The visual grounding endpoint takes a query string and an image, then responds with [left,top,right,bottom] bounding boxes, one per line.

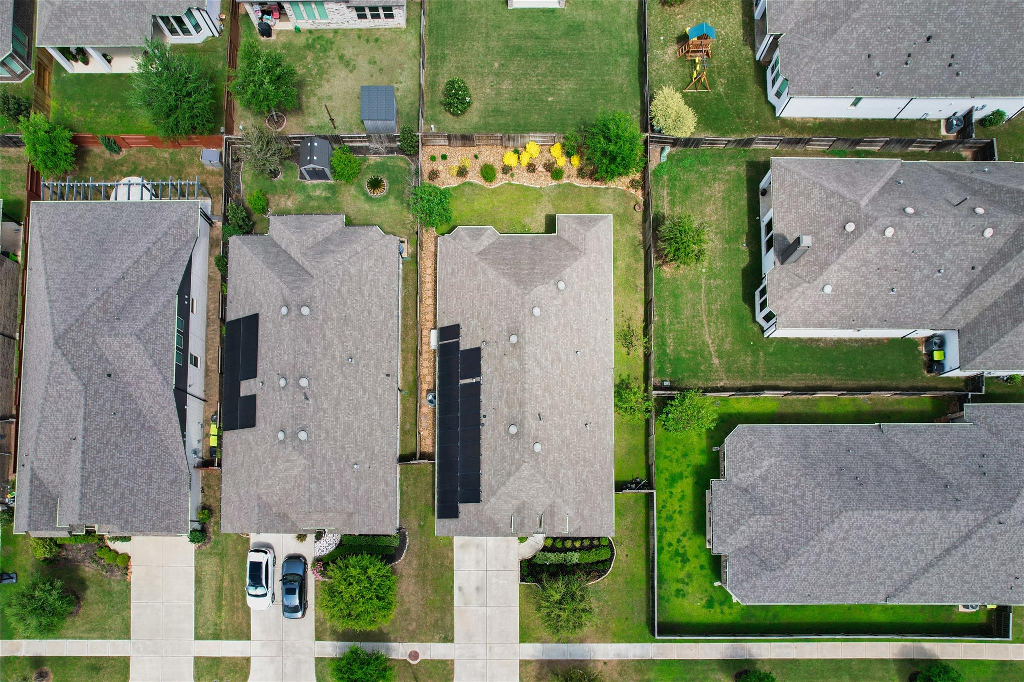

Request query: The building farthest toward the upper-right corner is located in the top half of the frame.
[755,0,1024,123]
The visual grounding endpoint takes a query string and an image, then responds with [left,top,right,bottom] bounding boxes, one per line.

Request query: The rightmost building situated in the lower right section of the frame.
[707,403,1024,607]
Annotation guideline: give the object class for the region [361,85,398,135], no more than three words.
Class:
shed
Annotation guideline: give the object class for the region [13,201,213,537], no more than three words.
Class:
house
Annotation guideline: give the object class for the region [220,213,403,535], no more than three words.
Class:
house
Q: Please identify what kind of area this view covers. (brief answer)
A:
residential area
